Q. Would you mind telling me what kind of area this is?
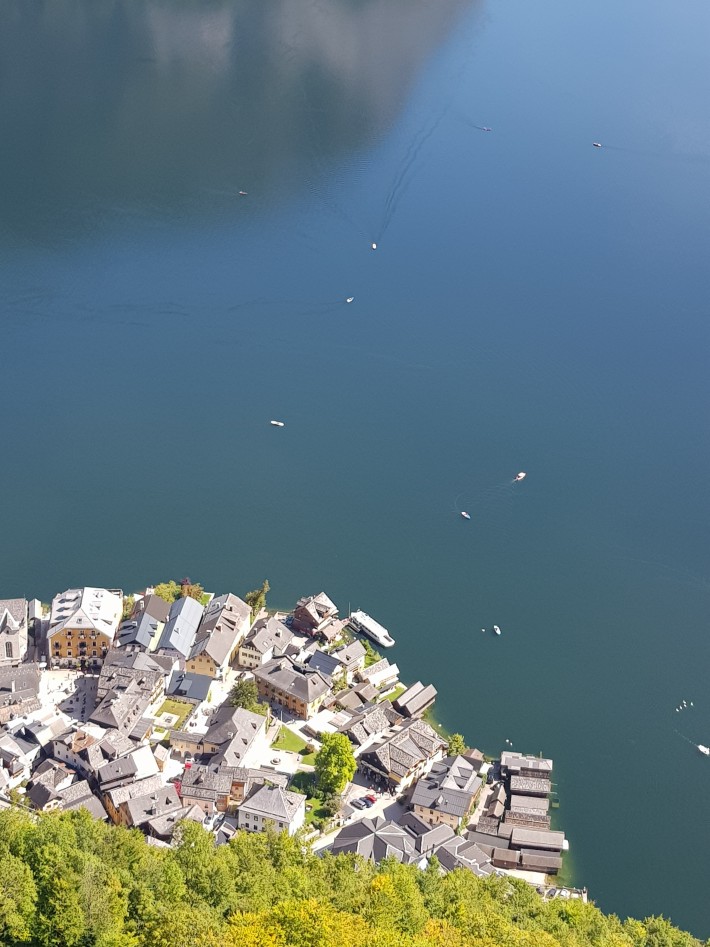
residential area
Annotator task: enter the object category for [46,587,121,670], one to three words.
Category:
building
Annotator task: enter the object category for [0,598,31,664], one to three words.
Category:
building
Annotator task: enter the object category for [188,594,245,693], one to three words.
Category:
house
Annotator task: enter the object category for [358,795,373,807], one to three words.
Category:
vehicle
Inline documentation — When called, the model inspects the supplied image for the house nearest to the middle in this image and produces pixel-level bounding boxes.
[293,590,341,648]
